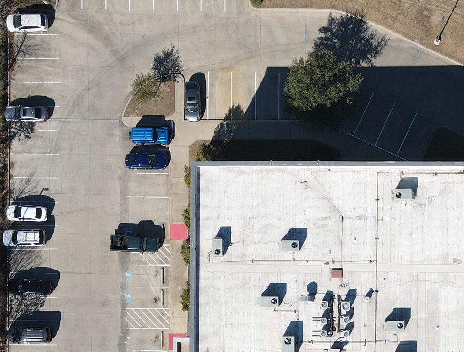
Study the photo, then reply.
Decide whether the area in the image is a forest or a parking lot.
parking lot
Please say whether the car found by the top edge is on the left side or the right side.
left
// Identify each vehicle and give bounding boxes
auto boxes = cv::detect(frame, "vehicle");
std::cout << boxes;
[126,125,170,145]
[109,232,161,254]
[2,227,48,247]
[124,151,169,171]
[6,12,49,33]
[7,202,48,223]
[5,104,48,123]
[7,326,53,346]
[183,81,202,122]
[8,276,54,297]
